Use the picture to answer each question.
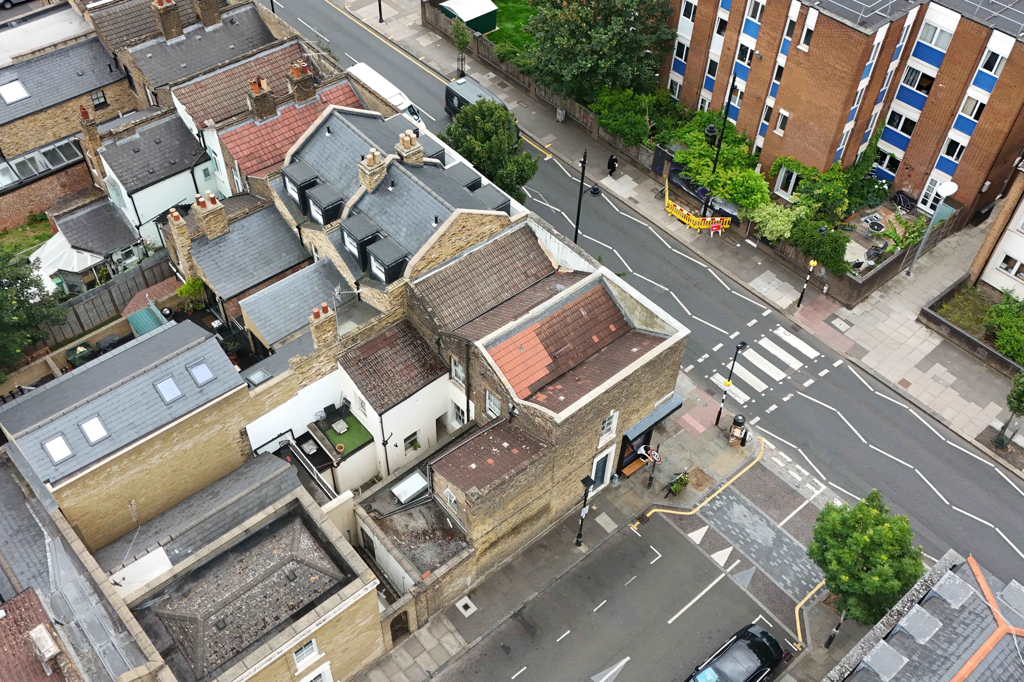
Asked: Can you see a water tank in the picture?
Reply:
No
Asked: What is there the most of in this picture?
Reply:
buildings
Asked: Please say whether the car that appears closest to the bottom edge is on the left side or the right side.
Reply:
right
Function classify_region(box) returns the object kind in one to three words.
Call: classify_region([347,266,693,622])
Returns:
house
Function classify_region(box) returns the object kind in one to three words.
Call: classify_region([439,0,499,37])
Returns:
shed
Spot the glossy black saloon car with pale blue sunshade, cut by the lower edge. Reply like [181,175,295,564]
[690,622,790,682]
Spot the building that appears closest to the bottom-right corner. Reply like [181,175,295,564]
[822,549,1024,682]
